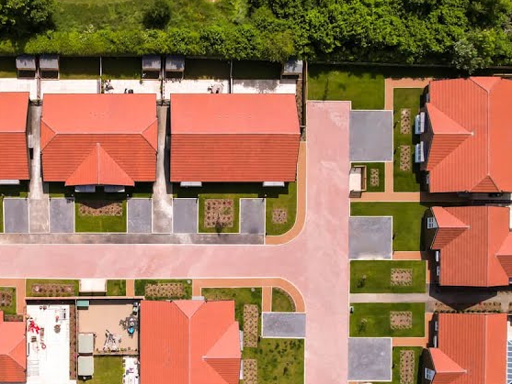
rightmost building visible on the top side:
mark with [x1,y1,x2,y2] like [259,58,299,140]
[414,77,512,193]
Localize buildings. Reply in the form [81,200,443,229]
[0,92,31,183]
[140,297,246,384]
[40,93,157,193]
[15,55,37,73]
[170,92,302,186]
[0,311,29,383]
[78,332,94,353]
[351,164,370,191]
[39,55,60,73]
[281,61,303,78]
[165,55,185,73]
[425,205,512,285]
[422,313,507,384]
[78,355,94,376]
[414,77,512,193]
[142,55,162,73]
